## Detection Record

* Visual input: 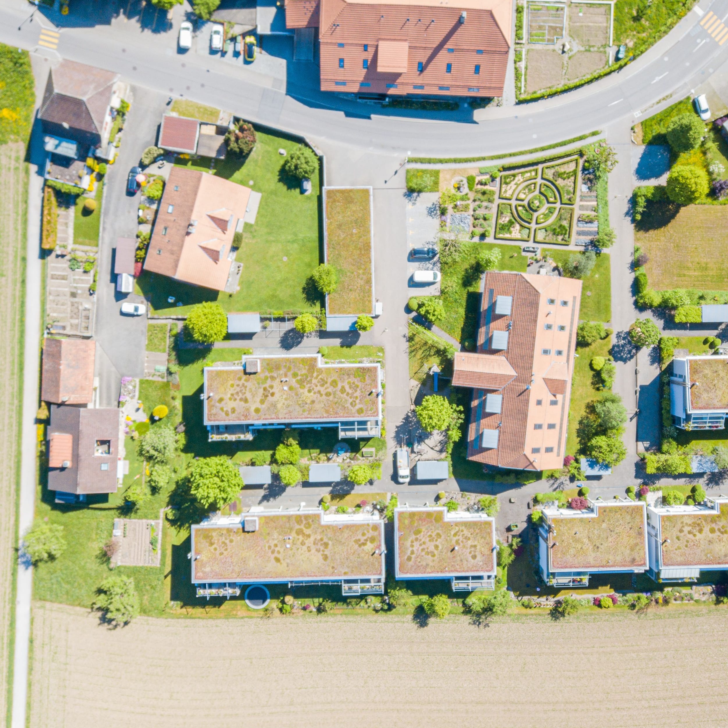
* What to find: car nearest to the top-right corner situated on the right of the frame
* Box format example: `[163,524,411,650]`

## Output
[694,94,711,120]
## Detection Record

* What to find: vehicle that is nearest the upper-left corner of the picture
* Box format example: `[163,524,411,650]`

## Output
[179,22,192,48]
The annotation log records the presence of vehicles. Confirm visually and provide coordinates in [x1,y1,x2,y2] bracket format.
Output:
[694,94,711,120]
[121,303,145,314]
[414,270,440,282]
[211,25,222,49]
[179,22,192,48]
[412,246,437,258]
[398,448,410,483]
[244,36,256,60]
[128,168,139,194]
